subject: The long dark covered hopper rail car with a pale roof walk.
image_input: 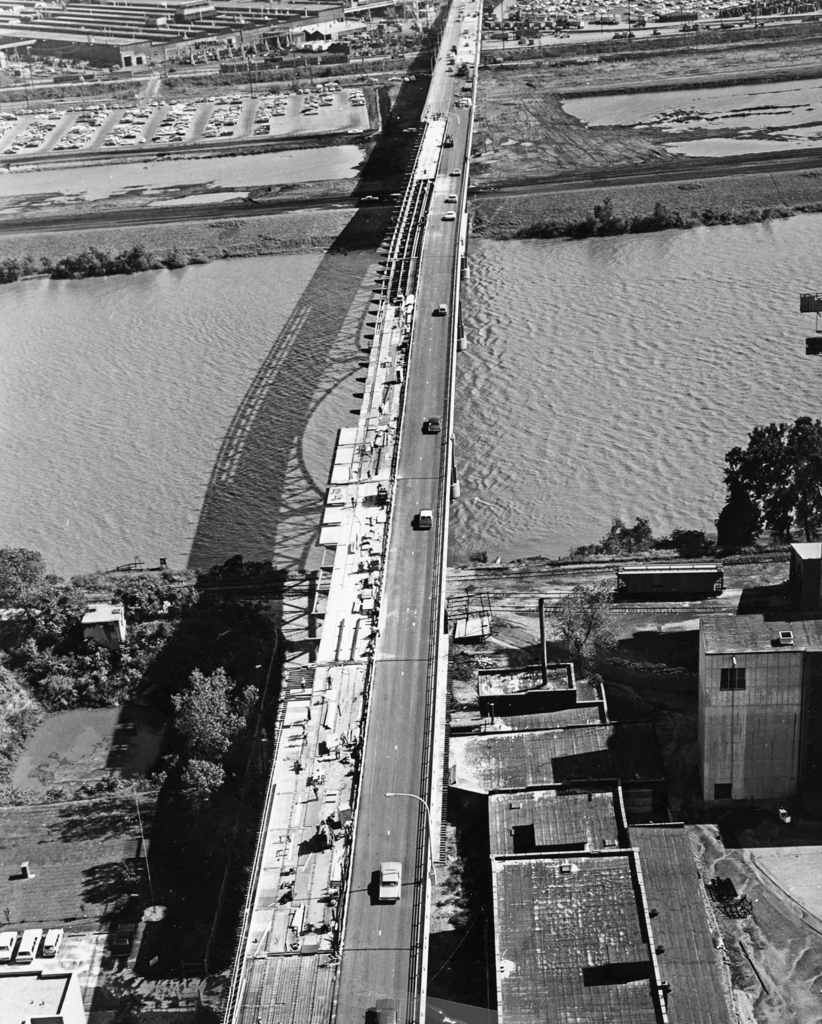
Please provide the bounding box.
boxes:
[615,566,727,596]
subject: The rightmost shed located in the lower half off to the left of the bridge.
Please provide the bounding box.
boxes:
[81,603,125,645]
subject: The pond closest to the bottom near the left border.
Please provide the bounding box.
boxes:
[11,702,172,800]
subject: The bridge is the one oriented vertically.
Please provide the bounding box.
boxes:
[215,0,483,1024]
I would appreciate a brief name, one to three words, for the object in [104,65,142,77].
rail car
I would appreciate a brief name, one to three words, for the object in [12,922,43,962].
car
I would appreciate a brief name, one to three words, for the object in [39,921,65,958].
car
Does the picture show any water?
Yes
